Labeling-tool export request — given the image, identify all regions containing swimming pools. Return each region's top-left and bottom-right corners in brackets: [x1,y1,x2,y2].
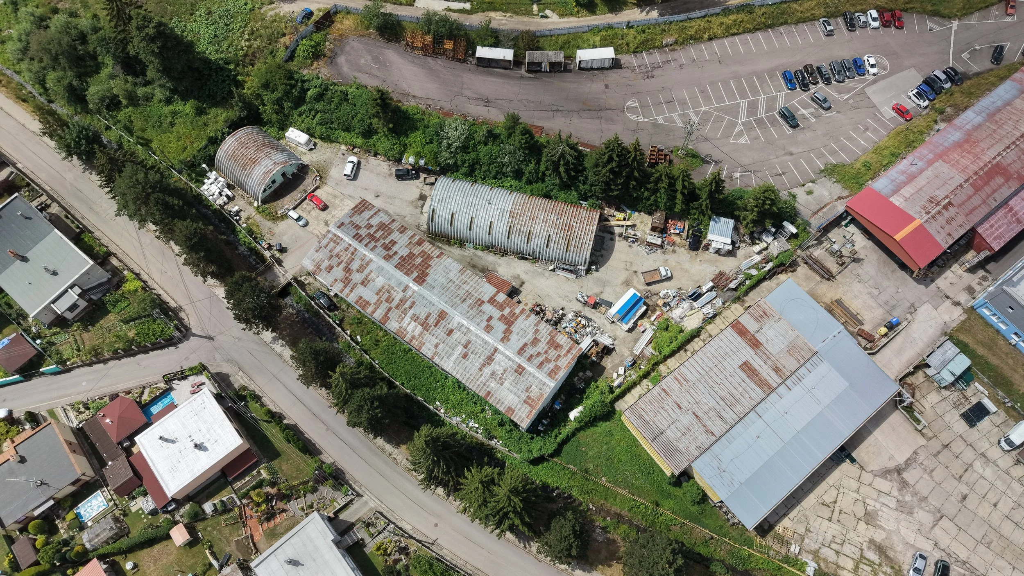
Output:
[74,491,108,523]
[140,391,177,421]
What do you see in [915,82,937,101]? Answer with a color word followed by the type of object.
blue car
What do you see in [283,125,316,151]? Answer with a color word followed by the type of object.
white camper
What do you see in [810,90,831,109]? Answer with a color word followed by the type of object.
gray car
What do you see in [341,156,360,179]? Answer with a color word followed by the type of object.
white car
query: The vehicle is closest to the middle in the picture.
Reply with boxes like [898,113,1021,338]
[578,291,611,310]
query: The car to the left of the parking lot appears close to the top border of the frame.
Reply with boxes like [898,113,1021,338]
[295,5,314,25]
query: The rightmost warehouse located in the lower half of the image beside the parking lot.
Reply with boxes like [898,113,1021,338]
[618,278,900,531]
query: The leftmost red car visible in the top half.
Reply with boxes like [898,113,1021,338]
[305,193,326,212]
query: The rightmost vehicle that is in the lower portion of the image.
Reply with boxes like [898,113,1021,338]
[997,425,1024,452]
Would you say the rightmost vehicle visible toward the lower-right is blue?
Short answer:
No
